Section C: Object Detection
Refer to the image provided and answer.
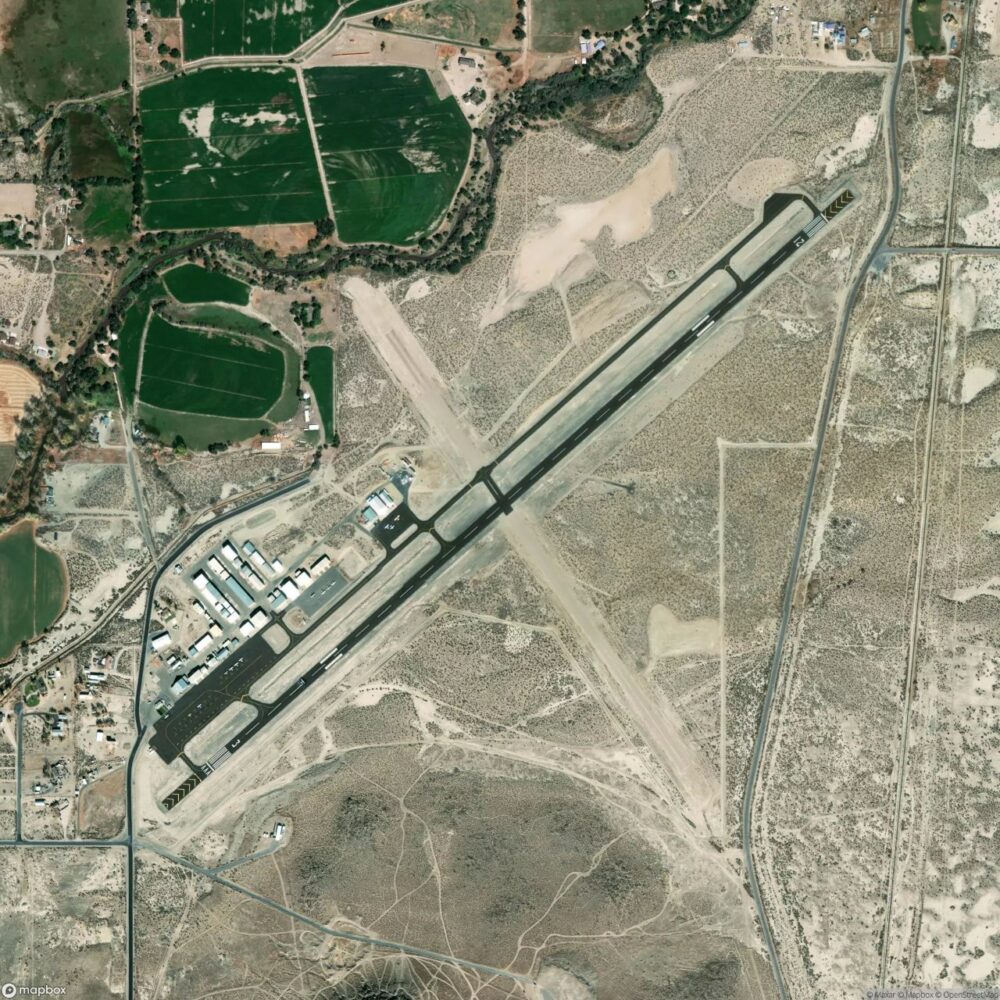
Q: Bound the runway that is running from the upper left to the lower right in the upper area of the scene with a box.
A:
[342,277,483,480]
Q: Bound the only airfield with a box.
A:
[149,189,855,835]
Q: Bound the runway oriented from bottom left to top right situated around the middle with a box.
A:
[194,212,830,781]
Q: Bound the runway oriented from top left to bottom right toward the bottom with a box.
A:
[505,511,724,835]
